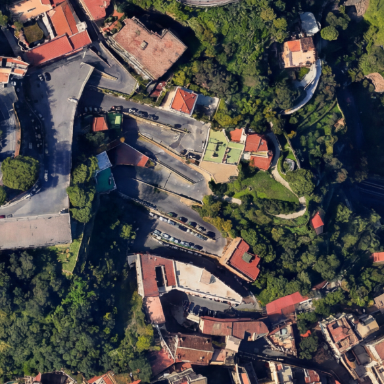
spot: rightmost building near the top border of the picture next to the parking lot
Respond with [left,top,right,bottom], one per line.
[106,8,191,83]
